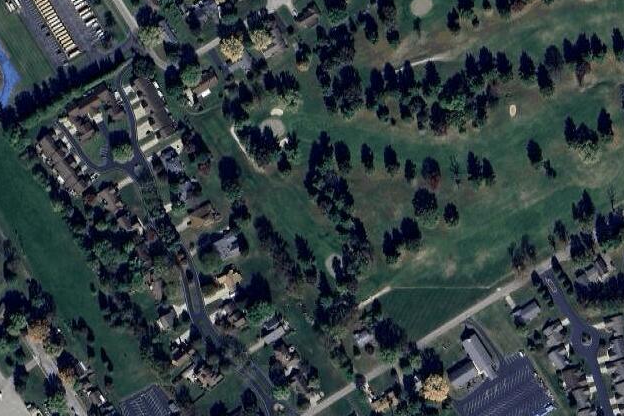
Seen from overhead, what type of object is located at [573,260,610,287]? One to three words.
house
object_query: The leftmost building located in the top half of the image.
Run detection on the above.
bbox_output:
[38,135,94,197]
